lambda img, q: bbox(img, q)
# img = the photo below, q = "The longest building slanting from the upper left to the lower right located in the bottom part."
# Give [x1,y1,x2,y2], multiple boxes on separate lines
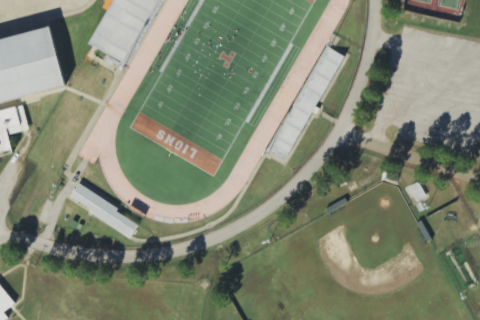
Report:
[66,182,139,238]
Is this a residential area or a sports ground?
sports ground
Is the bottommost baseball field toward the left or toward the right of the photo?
right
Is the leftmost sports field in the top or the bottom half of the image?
top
